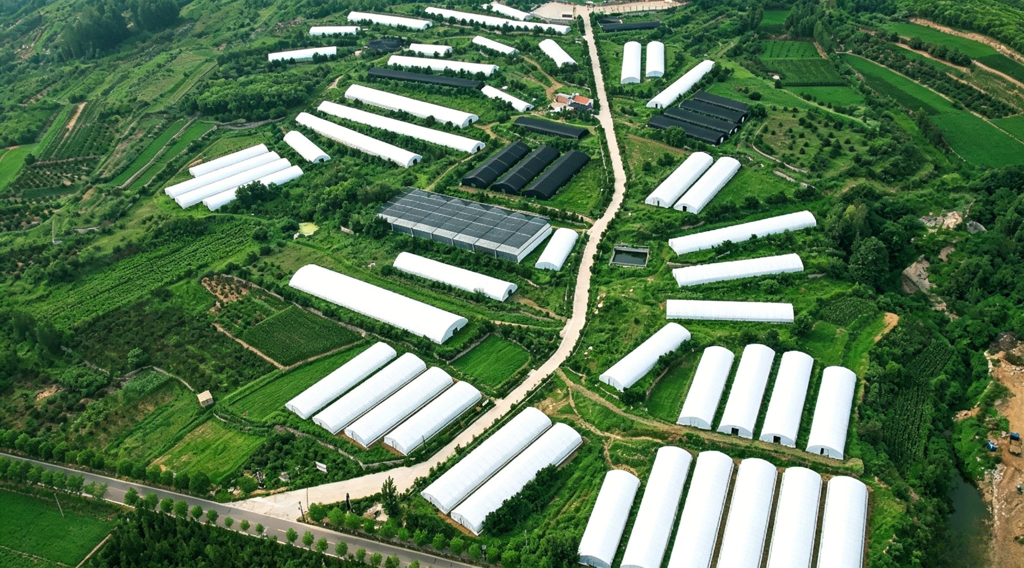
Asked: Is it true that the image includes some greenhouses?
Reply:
Yes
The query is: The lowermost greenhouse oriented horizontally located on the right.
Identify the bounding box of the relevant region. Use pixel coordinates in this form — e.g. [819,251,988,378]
[666,298,795,323]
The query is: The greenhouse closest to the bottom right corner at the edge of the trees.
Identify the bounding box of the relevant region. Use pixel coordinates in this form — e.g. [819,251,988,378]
[820,470,872,568]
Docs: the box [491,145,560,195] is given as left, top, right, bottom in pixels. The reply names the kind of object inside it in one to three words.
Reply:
greenhouse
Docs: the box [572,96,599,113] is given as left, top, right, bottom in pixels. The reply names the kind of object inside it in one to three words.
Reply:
house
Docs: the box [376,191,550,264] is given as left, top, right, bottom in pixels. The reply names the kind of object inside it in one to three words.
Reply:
building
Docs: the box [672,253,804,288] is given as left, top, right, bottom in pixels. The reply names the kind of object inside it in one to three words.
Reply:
greenhouse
